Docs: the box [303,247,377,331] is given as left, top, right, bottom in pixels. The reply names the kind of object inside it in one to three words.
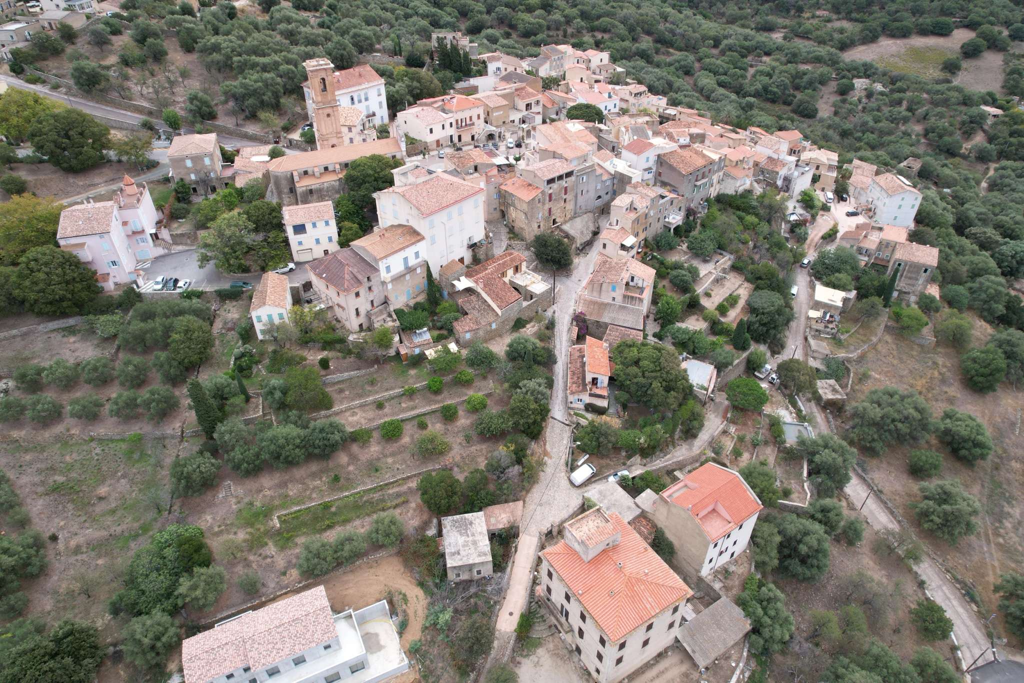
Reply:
house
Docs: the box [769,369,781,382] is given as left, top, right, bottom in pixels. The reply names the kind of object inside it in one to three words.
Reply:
vehicle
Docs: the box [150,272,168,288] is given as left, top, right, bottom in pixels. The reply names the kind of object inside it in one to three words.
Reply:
car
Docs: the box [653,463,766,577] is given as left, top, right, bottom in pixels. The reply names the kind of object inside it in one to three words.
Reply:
house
